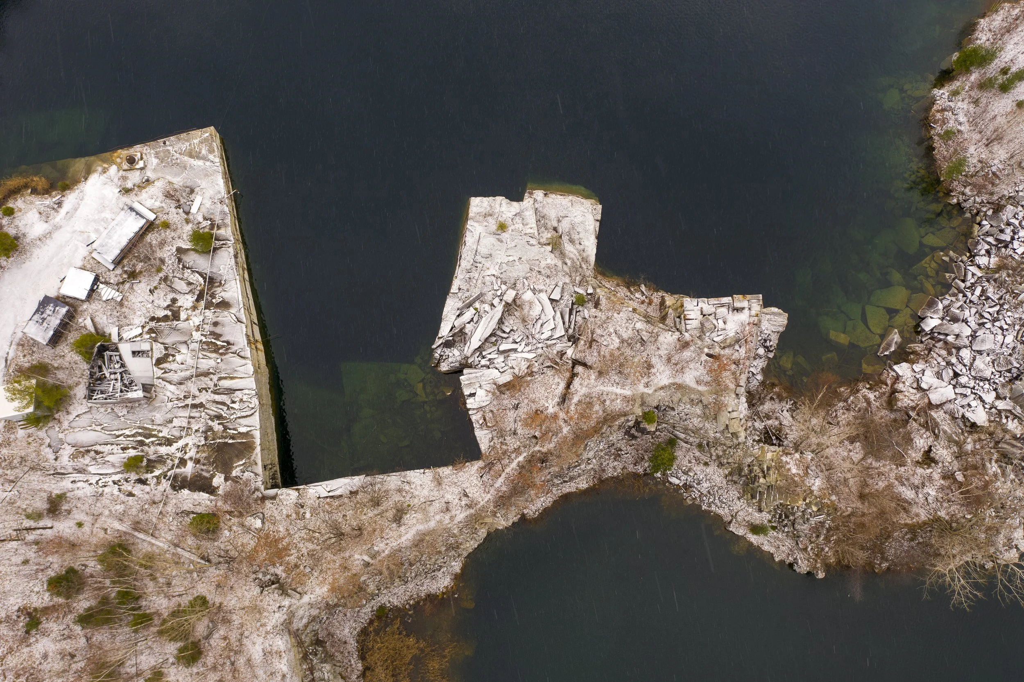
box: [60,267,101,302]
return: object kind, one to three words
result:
shed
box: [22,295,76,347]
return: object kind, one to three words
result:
shed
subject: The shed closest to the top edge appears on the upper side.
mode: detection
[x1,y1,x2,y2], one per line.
[90,201,161,271]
